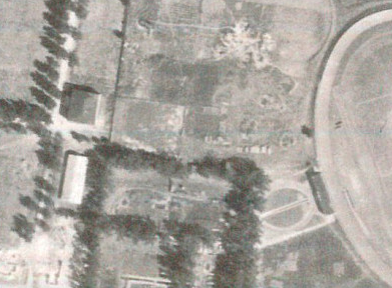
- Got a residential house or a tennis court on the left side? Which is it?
residential house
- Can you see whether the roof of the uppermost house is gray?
Yes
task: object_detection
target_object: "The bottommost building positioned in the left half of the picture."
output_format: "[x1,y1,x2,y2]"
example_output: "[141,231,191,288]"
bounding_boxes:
[61,155,89,204]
